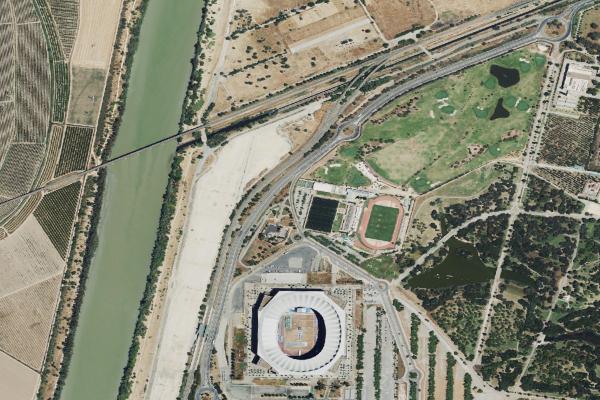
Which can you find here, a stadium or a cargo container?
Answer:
stadium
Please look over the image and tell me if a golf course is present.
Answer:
Yes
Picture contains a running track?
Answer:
Yes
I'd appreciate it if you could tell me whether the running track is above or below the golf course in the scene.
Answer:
below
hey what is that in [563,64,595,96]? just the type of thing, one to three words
building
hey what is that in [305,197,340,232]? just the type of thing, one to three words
soccer field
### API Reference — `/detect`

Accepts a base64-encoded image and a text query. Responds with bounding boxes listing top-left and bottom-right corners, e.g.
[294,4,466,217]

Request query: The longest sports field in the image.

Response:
[294,178,420,252]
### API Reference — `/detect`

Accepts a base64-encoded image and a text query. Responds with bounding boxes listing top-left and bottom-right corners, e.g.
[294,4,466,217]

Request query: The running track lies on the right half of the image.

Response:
[359,193,405,252]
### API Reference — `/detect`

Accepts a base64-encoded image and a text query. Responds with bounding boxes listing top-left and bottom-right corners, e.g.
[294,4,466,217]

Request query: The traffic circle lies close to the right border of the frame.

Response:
[539,16,572,42]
